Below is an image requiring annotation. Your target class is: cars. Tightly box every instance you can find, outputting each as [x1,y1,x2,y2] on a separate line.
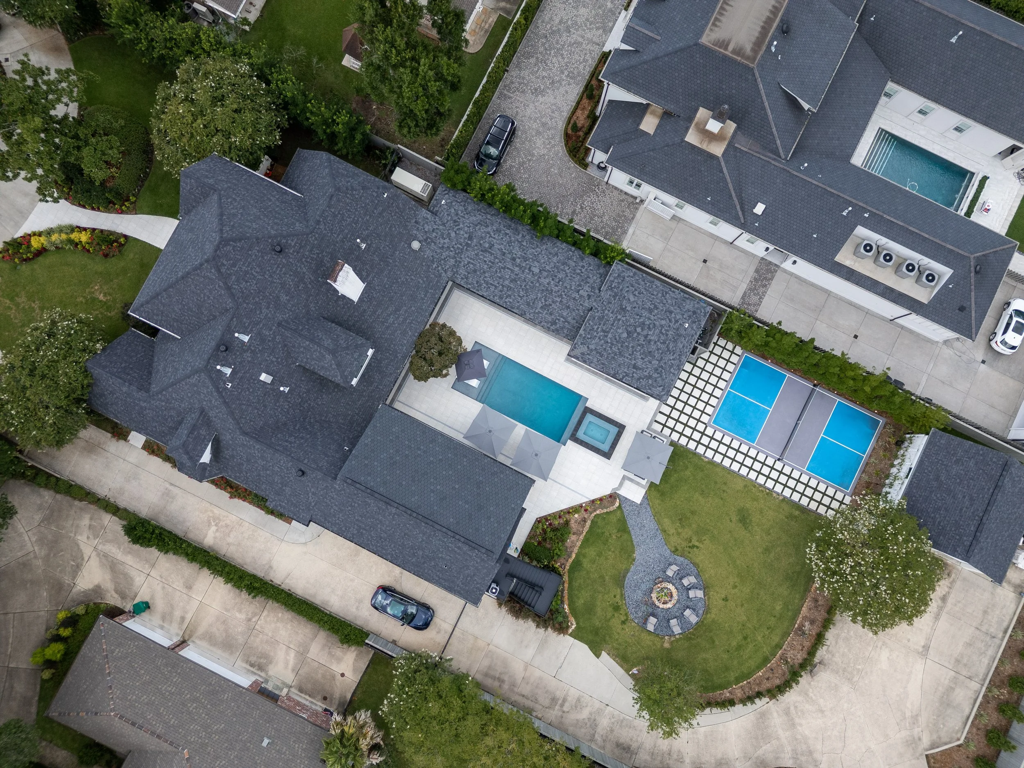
[475,110,517,173]
[372,587,433,630]
[989,297,1024,356]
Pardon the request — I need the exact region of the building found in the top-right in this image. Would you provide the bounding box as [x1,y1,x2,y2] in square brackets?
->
[587,0,1024,343]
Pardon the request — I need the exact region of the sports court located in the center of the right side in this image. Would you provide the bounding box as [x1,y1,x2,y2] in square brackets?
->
[707,349,886,497]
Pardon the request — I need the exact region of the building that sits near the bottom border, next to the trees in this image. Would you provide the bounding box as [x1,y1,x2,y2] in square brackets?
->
[44,612,334,768]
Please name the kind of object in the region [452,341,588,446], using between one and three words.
swimming pool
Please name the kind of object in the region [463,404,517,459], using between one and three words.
umbrella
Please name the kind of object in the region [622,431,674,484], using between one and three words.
umbrella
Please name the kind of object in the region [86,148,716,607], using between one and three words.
house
